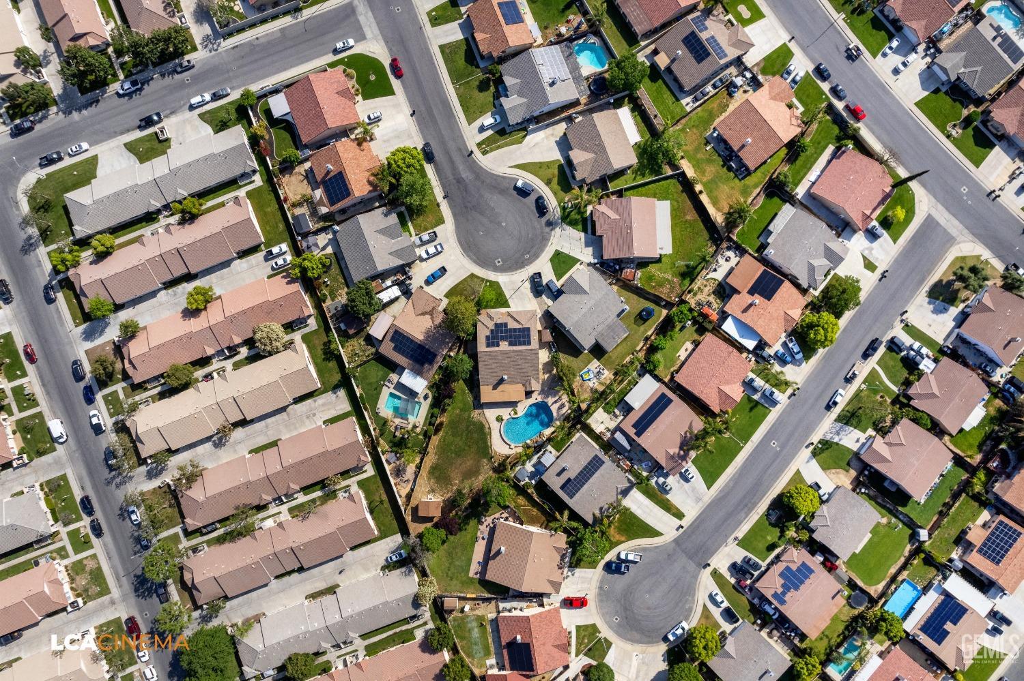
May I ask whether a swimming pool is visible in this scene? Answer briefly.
Yes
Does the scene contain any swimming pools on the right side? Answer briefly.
Yes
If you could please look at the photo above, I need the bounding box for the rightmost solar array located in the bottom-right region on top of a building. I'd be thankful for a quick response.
[977,521,1021,564]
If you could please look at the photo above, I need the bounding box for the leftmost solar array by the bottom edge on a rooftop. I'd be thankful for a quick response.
[507,644,533,671]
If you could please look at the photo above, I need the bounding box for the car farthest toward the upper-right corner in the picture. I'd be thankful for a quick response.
[936,19,955,39]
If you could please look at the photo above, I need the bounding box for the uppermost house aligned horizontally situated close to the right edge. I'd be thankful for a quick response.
[880,0,977,44]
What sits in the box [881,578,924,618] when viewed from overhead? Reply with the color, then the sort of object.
blue swimming pool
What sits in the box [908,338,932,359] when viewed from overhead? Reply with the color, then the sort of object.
white truck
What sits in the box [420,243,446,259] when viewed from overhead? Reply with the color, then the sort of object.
white vehicle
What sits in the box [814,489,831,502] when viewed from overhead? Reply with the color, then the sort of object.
white vehicle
